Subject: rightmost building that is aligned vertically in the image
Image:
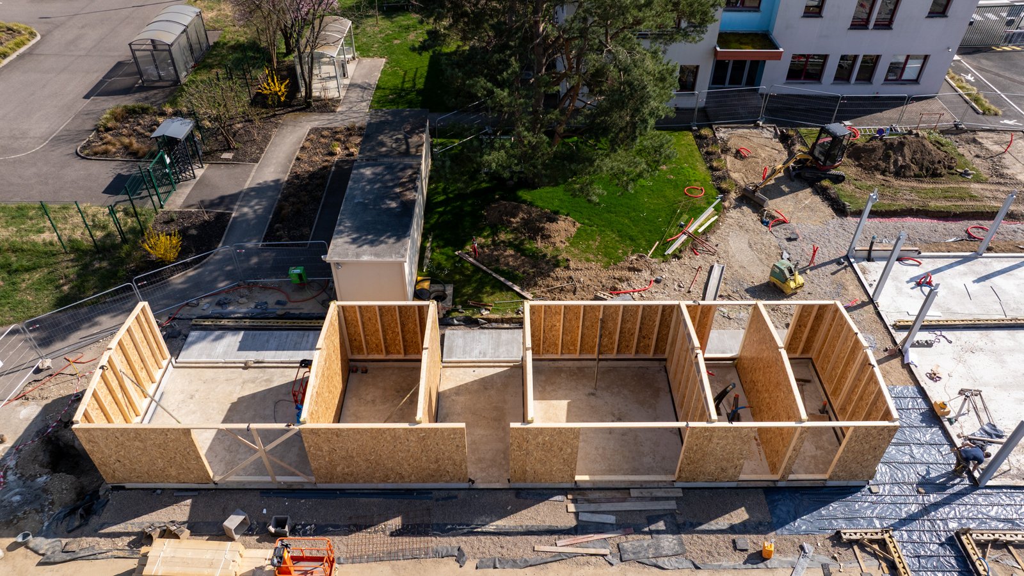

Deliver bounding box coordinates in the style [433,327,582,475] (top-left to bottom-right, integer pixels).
[325,107,432,302]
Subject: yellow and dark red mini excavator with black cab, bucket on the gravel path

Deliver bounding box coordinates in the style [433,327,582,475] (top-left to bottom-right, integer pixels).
[747,105,857,196]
